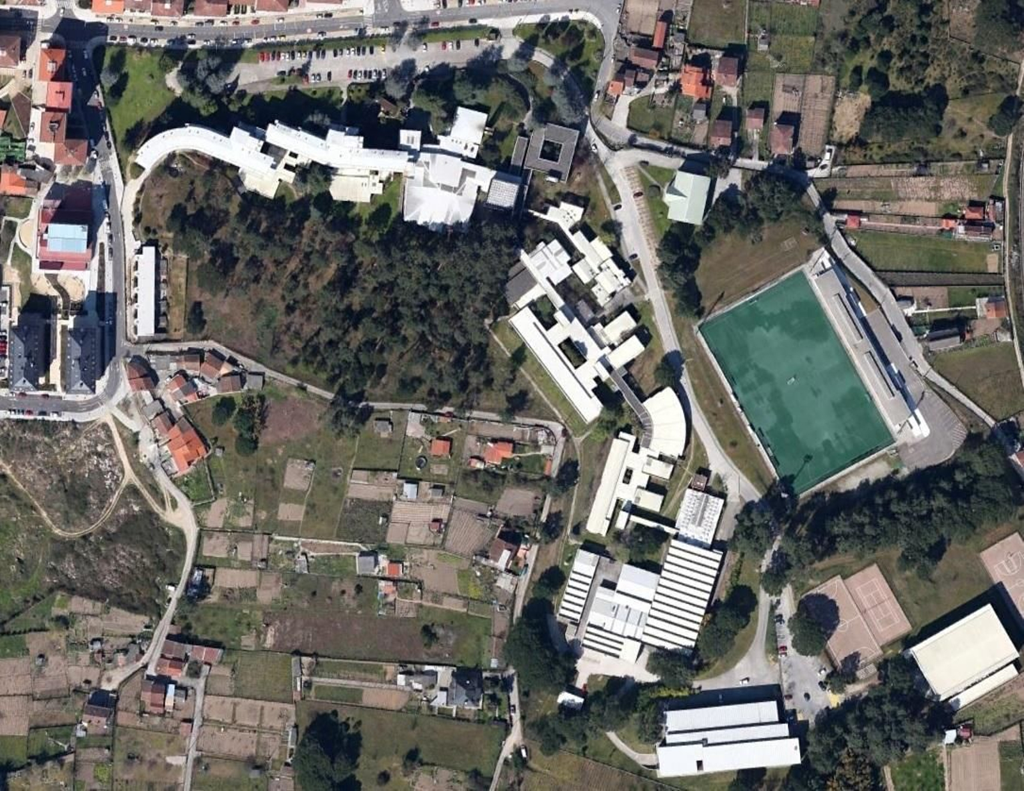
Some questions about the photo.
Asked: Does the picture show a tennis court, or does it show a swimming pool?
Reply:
tennis court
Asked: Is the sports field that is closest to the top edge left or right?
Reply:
right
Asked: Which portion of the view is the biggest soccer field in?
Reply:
right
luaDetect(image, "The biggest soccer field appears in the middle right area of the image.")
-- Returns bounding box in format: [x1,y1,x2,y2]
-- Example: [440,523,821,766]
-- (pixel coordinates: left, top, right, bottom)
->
[699,271,894,495]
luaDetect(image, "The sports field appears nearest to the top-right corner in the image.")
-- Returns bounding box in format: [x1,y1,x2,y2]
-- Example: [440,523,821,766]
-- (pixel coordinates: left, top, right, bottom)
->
[697,223,825,312]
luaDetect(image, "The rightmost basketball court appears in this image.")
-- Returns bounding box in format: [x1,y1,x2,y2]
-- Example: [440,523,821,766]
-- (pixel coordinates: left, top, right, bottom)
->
[980,533,1024,625]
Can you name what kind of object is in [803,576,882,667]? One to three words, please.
sports court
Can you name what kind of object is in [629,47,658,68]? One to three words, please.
barn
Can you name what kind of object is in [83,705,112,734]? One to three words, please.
house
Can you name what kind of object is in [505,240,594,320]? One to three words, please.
building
